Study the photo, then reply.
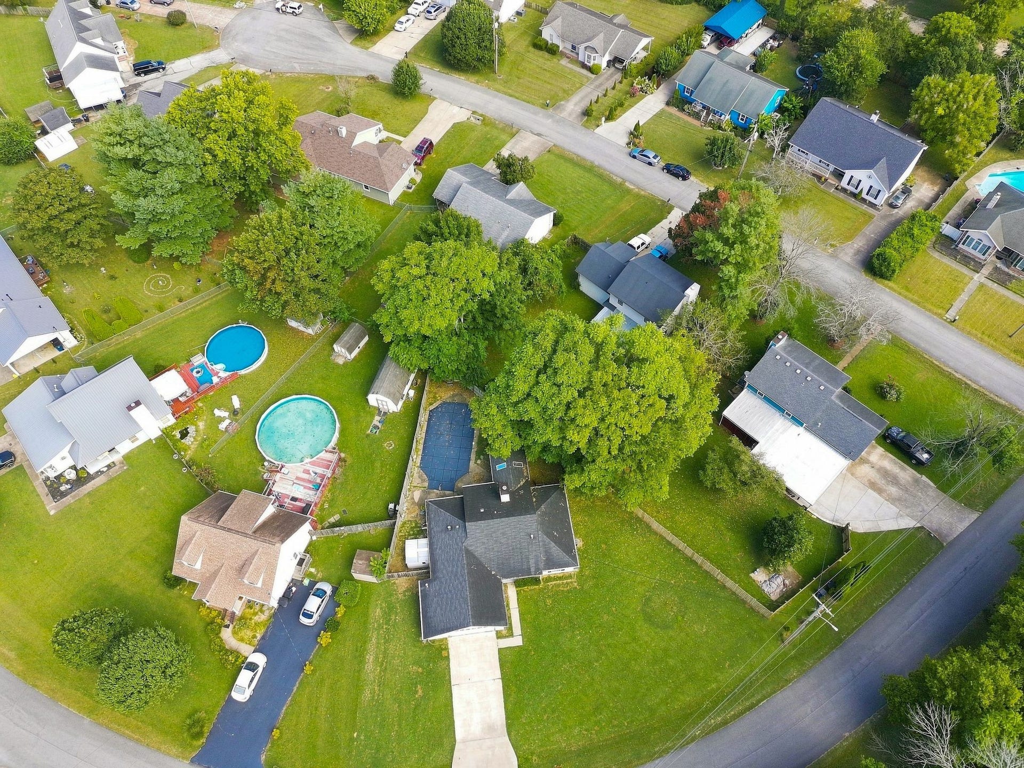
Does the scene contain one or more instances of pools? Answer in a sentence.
Yes, looking at the shot, I can spot a pool.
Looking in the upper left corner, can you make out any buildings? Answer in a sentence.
Yes, there is a building in the upper left corner.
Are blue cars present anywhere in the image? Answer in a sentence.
Yes, the picture does show a blue car.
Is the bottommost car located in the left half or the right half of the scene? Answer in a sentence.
The bottommost car sits on the left side.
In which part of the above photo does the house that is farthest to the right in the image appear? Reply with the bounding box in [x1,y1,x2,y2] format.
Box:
[937,180,1024,276]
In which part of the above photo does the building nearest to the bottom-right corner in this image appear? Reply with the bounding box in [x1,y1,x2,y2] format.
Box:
[717,329,890,511]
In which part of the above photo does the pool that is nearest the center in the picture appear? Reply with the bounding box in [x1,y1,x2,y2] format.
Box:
[418,400,477,493]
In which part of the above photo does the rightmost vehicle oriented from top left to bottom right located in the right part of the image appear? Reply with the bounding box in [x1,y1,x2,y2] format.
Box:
[884,425,939,467]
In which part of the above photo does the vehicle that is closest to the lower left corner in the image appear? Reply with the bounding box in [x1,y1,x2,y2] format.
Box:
[227,652,268,703]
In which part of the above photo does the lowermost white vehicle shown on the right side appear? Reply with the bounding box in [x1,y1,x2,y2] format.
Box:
[627,230,656,249]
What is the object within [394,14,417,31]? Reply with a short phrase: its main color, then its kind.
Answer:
white car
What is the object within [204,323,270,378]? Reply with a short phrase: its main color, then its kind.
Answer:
blue swimming pool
